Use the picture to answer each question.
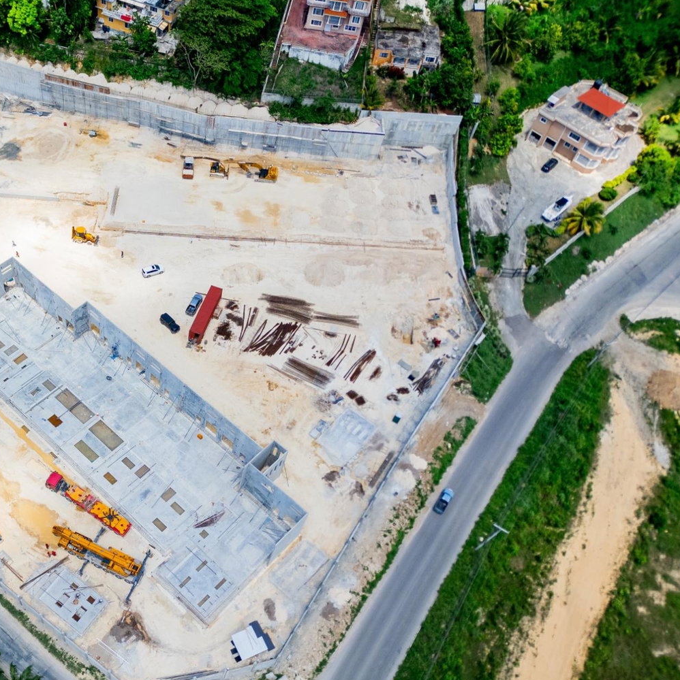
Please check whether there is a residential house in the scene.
Yes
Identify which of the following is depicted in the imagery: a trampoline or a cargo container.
cargo container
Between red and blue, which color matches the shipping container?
red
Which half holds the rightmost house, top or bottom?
top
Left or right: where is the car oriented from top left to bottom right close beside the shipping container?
left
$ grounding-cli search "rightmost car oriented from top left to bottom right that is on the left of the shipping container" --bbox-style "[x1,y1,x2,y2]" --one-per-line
[159,309,182,332]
